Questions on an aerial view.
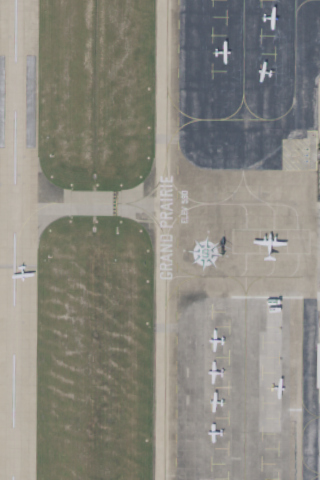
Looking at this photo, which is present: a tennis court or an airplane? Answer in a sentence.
It is an airplane that can be seen here.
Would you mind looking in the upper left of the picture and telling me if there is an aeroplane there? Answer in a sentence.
No, I see no aeroplane in the upper left of the picture.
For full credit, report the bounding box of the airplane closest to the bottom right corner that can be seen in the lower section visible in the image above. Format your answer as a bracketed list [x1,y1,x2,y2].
[272,378,285,400]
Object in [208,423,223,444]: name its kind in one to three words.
airplane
